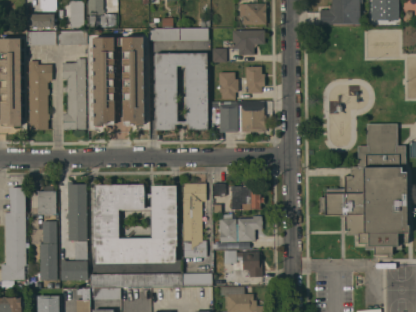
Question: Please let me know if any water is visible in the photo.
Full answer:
No, water can't be seen anywhere here.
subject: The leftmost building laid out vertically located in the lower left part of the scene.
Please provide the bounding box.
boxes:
[5,187,26,282]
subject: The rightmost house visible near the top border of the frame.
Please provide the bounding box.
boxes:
[374,0,401,26]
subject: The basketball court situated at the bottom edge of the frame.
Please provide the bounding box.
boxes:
[384,259,416,312]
